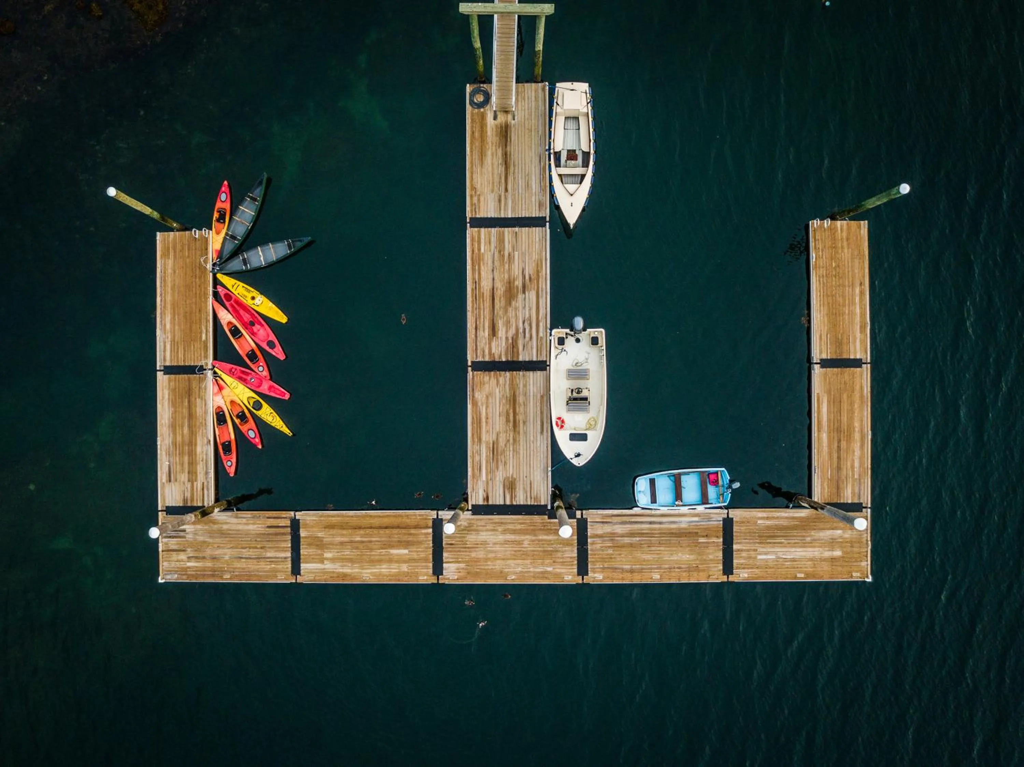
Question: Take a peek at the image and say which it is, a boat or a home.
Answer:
boat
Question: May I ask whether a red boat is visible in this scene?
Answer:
Yes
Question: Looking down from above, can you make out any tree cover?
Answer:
No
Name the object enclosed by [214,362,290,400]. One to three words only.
boat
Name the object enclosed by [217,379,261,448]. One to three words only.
boat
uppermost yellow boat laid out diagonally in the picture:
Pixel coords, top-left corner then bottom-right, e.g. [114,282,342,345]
[215,273,287,323]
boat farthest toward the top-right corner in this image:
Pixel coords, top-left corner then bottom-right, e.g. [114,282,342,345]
[549,82,595,232]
